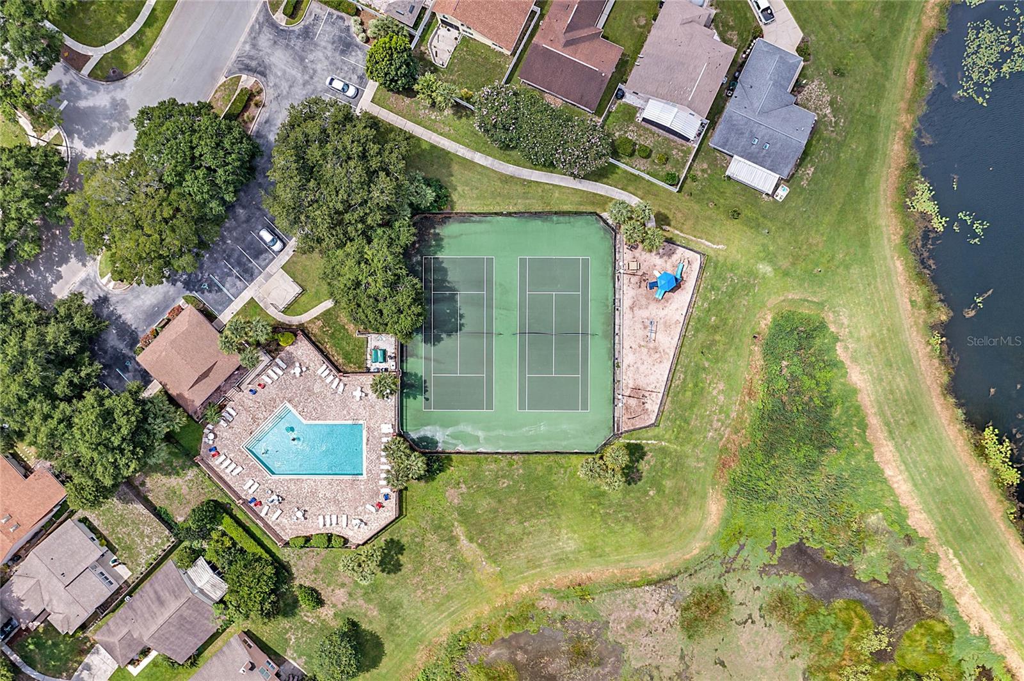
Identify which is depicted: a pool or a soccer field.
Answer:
pool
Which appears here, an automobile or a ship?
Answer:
automobile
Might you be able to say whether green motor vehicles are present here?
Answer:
No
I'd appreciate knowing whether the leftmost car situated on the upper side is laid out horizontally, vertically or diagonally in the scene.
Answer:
diagonally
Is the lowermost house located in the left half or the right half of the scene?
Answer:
left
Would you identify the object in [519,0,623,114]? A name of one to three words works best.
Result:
house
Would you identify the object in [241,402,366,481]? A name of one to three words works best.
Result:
swimming pool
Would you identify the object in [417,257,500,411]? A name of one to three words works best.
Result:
tennis court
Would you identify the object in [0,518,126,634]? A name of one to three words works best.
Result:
house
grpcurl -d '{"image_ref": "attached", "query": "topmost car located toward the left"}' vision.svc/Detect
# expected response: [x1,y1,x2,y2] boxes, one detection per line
[327,76,358,99]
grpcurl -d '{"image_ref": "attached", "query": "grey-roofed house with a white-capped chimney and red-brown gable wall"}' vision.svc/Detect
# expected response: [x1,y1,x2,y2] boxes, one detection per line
[189,631,278,681]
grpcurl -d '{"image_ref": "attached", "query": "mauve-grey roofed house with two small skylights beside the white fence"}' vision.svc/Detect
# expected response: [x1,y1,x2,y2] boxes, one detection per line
[384,0,430,29]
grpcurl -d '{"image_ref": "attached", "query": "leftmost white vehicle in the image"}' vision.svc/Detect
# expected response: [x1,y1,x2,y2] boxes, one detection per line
[258,227,284,253]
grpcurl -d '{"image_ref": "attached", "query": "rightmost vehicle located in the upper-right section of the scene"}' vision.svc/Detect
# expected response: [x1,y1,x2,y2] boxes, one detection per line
[750,0,775,25]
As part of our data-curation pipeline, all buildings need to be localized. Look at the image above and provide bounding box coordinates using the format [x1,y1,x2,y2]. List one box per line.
[94,556,228,668]
[432,0,537,57]
[519,0,623,114]
[384,0,430,29]
[0,450,70,561]
[137,306,242,415]
[189,631,278,681]
[708,39,816,194]
[0,518,126,634]
[625,0,736,142]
